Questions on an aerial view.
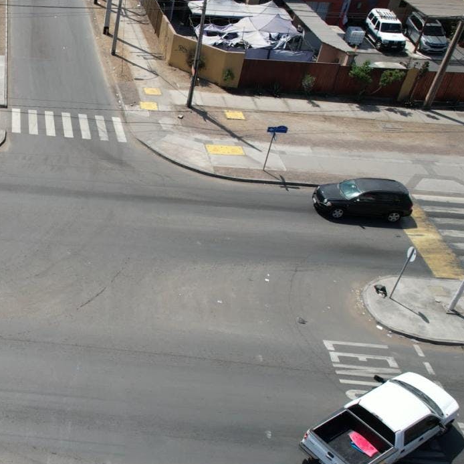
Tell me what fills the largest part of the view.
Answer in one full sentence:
What you mostly see from above here is paved ground.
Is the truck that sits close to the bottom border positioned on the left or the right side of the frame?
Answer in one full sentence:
The truck that sits close to the bottom border sits on the right side.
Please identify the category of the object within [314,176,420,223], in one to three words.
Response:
car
